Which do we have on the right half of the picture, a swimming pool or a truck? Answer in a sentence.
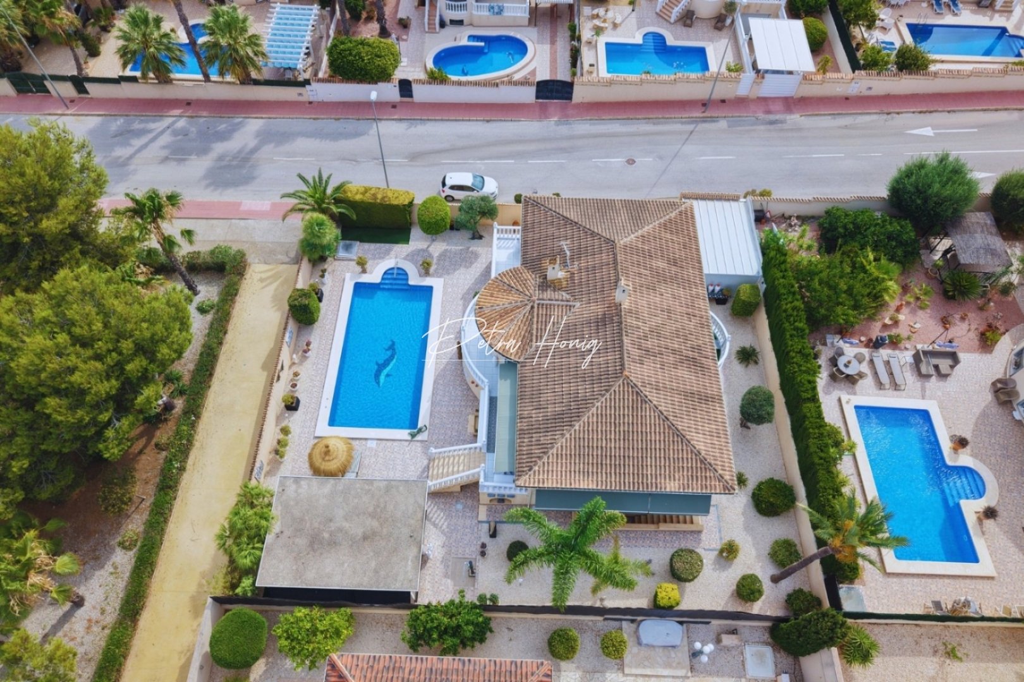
The feature located on the right half of the picture is a swimming pool.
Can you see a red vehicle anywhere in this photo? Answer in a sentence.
No, no red vehicle is visible in the scene.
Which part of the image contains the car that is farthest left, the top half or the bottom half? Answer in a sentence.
The car that is farthest left sits in the top half of the picture.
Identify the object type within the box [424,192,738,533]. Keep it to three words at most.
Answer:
house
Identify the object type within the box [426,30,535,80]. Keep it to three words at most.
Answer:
swimming pool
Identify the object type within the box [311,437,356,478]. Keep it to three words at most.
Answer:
umbrella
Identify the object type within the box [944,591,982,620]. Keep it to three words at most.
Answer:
umbrella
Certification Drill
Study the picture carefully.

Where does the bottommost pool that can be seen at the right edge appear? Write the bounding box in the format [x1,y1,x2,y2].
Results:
[841,395,1001,577]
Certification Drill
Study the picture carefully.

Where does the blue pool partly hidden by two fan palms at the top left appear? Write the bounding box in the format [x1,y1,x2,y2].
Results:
[120,18,278,79]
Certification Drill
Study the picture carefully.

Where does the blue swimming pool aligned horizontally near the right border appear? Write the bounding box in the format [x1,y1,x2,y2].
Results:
[896,10,1024,61]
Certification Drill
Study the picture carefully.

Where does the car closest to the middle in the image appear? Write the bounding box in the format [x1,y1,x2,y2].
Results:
[439,173,498,201]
